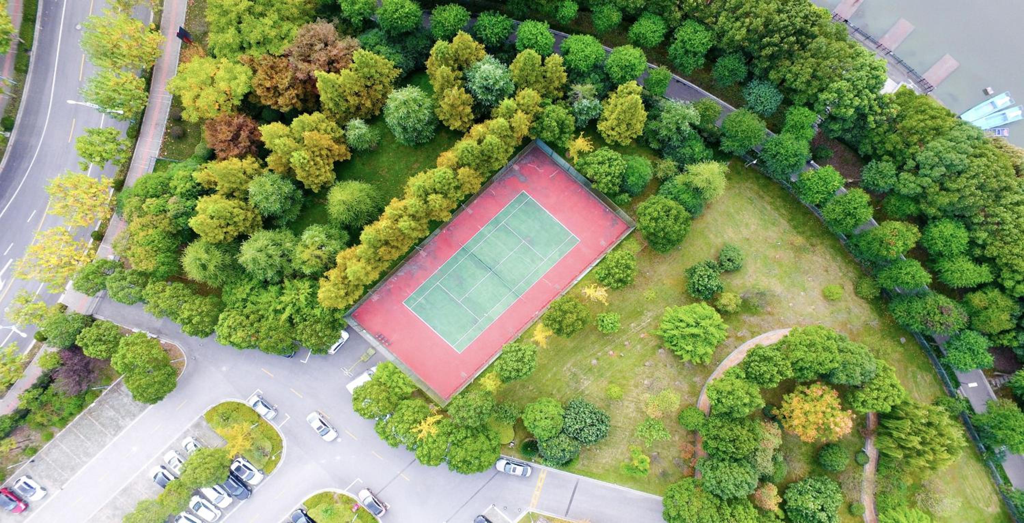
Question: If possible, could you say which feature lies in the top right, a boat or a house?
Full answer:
Looking in the top right, you will find a boat.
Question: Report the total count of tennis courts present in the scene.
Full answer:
The count comes to 1 tennis court.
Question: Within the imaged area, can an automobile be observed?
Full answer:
Yes, looking at the shot, I can spot an automobile.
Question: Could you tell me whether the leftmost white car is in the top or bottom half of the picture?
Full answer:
You can find the leftmost white car in the bottom half.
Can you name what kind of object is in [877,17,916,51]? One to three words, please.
pier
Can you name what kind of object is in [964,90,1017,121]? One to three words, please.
boat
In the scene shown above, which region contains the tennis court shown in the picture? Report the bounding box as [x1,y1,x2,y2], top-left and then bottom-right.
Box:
[351,146,629,400]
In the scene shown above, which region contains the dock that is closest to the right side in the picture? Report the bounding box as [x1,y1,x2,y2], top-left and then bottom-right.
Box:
[922,53,960,88]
